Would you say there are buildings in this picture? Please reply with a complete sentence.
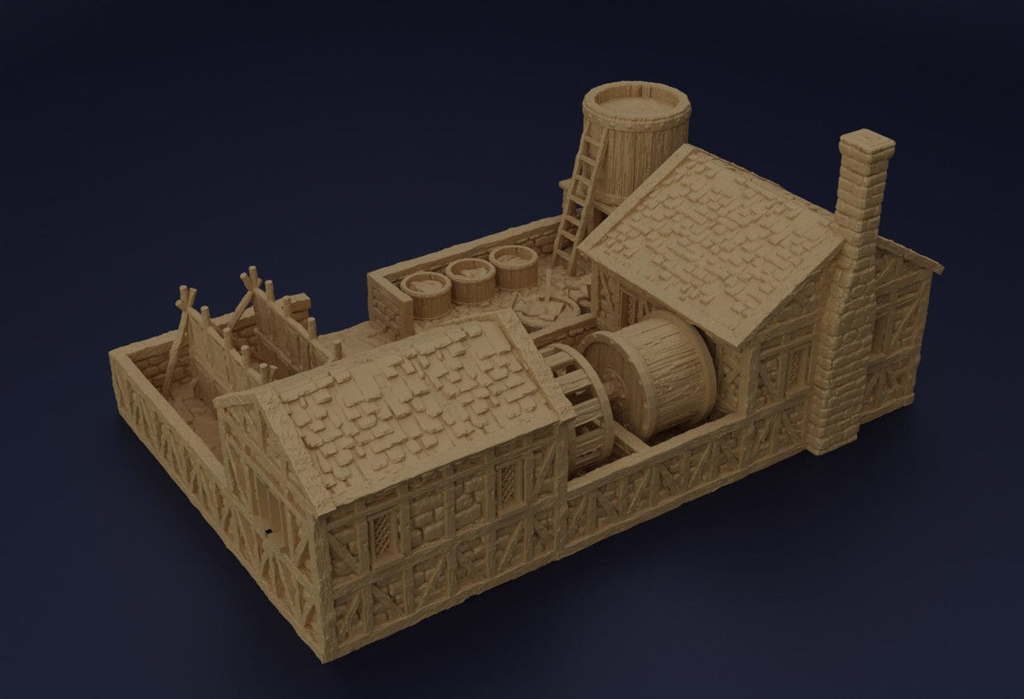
Yes, there is a building in the image.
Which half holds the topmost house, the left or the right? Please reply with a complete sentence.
You can find the topmost house on the right side of the picture.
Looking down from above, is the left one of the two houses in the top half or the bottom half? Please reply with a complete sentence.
Seen from above, the left one of the two houses lies in the bottom half of the view.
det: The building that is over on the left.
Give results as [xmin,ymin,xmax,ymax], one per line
[210,305,576,665]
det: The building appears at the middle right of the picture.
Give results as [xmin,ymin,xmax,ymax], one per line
[577,127,943,478]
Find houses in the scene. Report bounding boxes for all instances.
[210,305,576,665]
[577,127,943,478]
